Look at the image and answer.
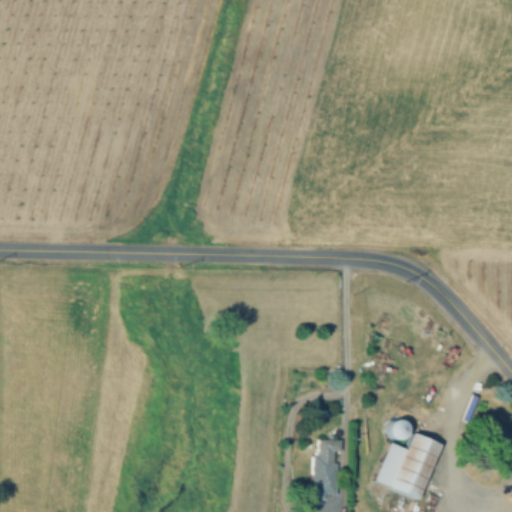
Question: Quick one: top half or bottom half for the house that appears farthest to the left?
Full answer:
Seen from above, the house that appears farthest to the left lies in the bottom half of the view.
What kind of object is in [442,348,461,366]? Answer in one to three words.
work vehicle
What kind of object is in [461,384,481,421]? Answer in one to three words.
vehicle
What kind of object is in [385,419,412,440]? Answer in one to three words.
silo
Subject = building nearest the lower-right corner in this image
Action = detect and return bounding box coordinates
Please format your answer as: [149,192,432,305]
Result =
[374,433,443,500]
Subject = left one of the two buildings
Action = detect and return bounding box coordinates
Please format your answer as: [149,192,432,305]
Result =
[312,440,344,496]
